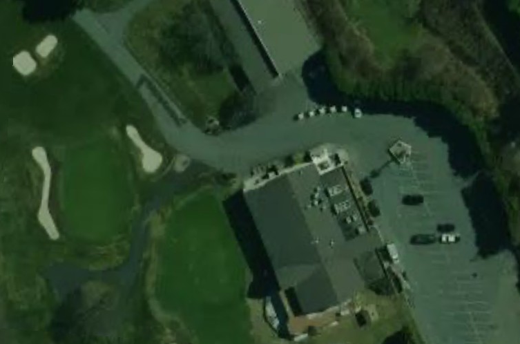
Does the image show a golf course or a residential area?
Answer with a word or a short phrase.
golf course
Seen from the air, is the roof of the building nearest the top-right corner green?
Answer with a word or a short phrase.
Yes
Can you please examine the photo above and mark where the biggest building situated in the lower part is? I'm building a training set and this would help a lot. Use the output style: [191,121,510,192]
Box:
[243,142,403,341]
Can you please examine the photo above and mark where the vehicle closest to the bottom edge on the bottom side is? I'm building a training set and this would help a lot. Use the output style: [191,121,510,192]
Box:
[386,243,400,265]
